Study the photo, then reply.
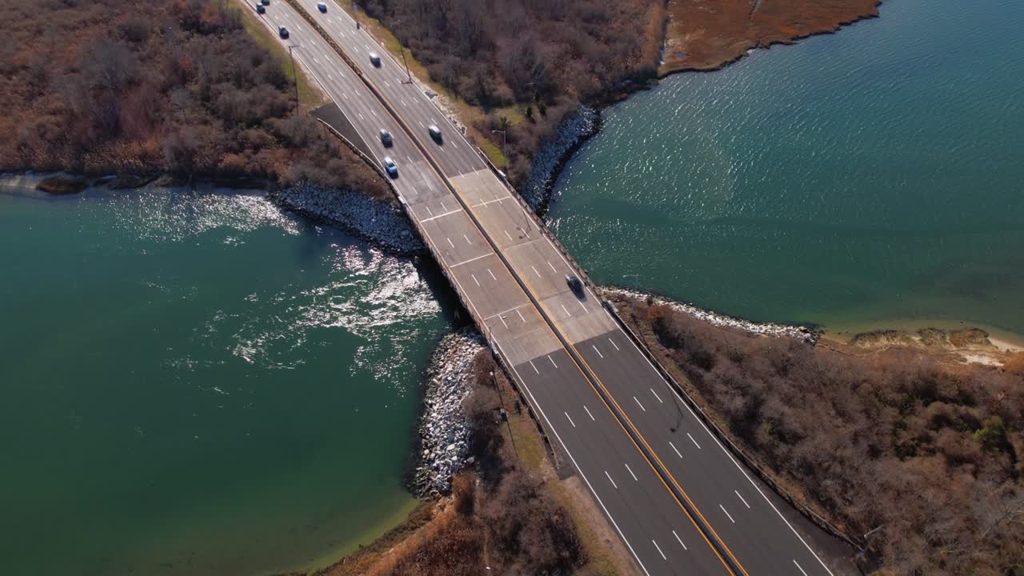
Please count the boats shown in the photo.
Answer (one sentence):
Not a single boat can be seen.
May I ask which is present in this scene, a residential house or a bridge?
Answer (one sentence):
It is a bridge that can be seen here.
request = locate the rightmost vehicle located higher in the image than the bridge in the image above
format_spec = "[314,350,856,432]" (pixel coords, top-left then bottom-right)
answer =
[428,126,441,138]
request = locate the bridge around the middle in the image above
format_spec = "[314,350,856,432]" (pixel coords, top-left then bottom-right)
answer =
[397,167,624,367]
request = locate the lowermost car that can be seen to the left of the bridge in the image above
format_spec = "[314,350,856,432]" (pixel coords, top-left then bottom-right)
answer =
[383,158,396,171]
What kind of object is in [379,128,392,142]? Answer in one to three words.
vehicle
